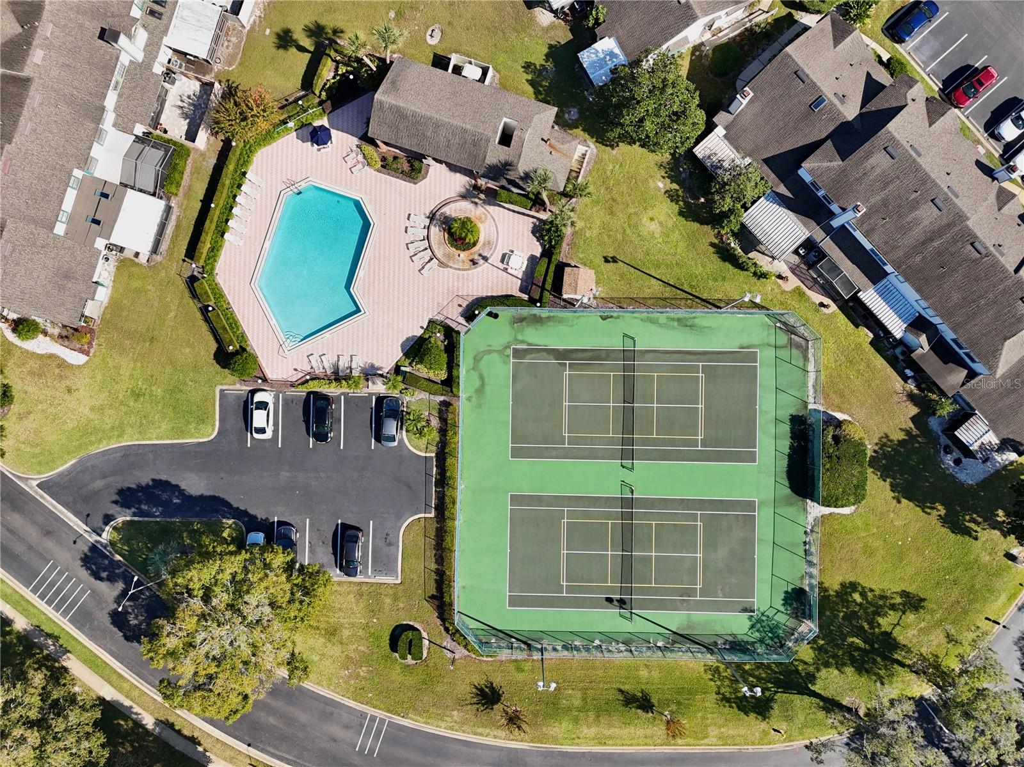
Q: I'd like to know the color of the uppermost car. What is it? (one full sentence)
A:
The uppermost car looks blue in the image.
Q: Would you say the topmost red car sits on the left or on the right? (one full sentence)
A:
The topmost red car is on the right side of the image.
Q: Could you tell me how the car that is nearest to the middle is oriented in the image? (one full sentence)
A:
Seen from above, the car that is nearest to the middle lies up and down.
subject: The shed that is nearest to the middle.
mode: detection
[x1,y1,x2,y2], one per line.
[562,267,596,298]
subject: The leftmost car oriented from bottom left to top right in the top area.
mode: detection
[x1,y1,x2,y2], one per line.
[893,0,940,43]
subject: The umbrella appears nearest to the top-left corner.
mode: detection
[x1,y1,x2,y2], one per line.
[307,122,332,147]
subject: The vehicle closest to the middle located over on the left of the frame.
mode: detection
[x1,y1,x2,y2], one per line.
[379,395,402,447]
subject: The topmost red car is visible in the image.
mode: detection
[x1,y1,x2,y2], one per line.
[949,64,1000,109]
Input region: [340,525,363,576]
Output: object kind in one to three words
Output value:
car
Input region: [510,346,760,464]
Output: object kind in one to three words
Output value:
tennis court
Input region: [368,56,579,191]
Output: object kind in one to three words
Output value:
building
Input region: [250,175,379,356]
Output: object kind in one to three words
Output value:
swimming pool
